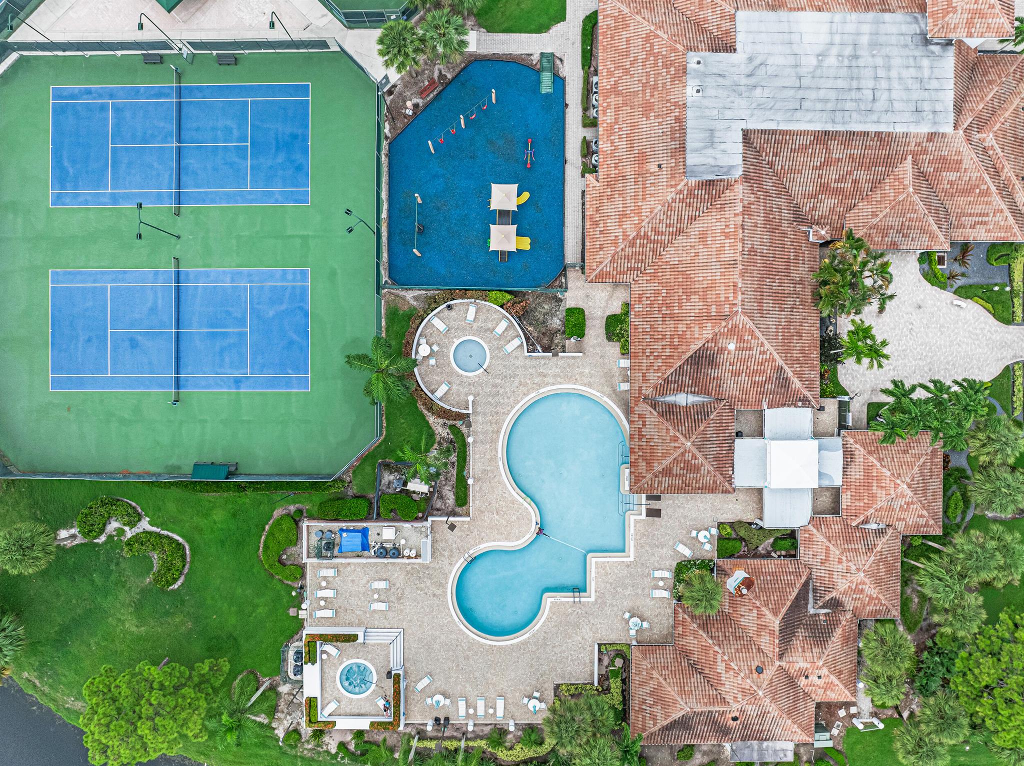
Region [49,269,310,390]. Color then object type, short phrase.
blue tennis court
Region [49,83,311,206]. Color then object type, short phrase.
blue tennis court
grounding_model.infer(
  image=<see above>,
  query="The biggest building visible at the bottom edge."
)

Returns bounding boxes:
[630,515,903,746]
